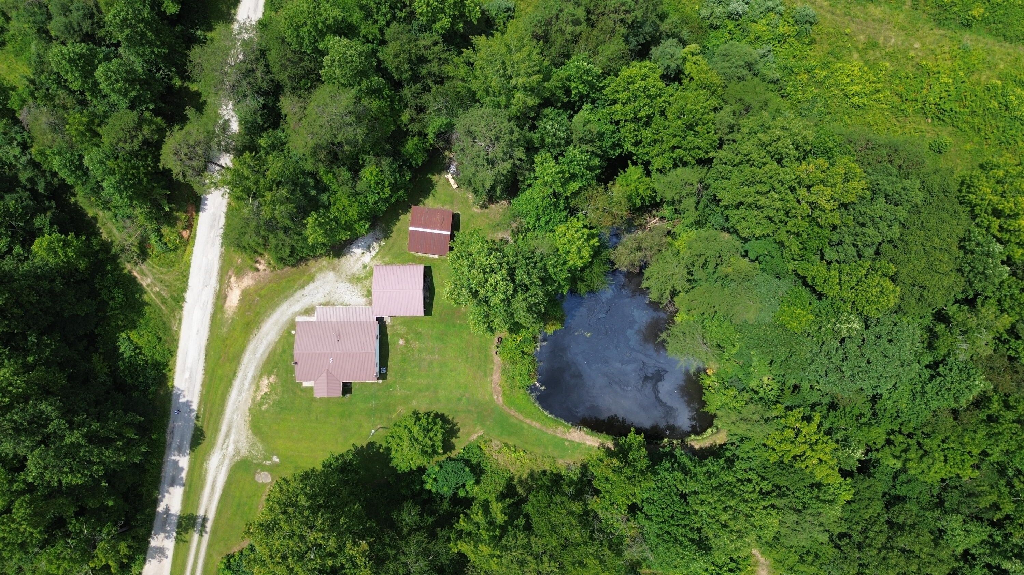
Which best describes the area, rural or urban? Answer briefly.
rural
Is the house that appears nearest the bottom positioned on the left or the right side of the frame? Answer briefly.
left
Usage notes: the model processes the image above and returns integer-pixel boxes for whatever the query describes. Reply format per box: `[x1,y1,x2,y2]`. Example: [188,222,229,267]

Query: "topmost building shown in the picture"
[408,205,452,256]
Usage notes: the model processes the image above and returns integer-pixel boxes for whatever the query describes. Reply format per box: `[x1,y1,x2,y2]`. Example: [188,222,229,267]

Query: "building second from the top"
[372,265,424,316]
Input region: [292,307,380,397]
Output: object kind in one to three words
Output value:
house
